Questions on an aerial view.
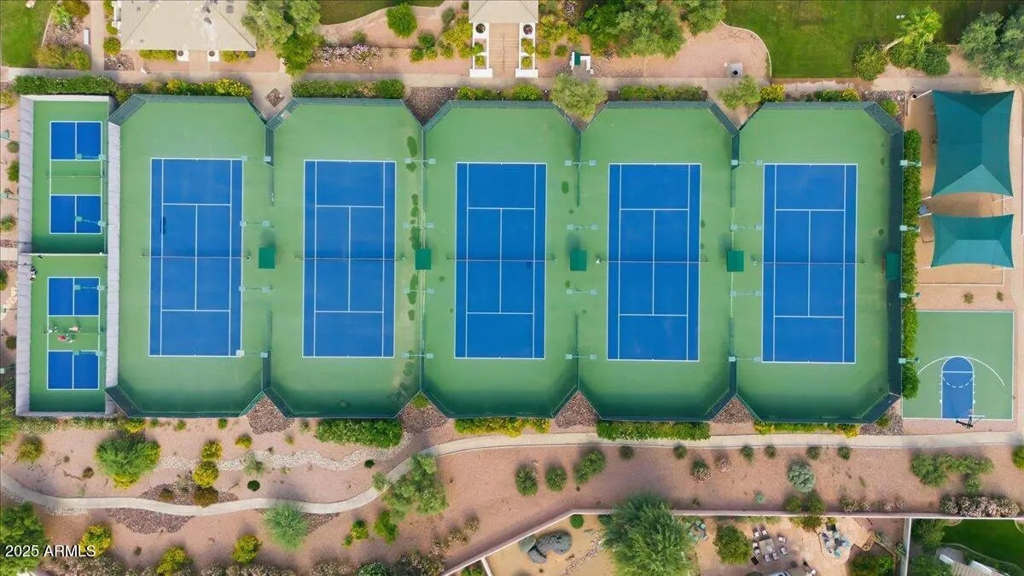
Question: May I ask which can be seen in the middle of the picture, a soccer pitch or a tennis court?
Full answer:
You can see a tennis court in the middle of the picture.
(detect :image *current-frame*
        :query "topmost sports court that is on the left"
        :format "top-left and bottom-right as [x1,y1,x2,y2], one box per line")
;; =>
[31,101,109,254]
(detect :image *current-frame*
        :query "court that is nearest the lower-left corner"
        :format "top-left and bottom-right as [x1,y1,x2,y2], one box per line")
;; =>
[29,255,107,412]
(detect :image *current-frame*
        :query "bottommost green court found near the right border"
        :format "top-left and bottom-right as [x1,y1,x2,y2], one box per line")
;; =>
[903,311,1014,420]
